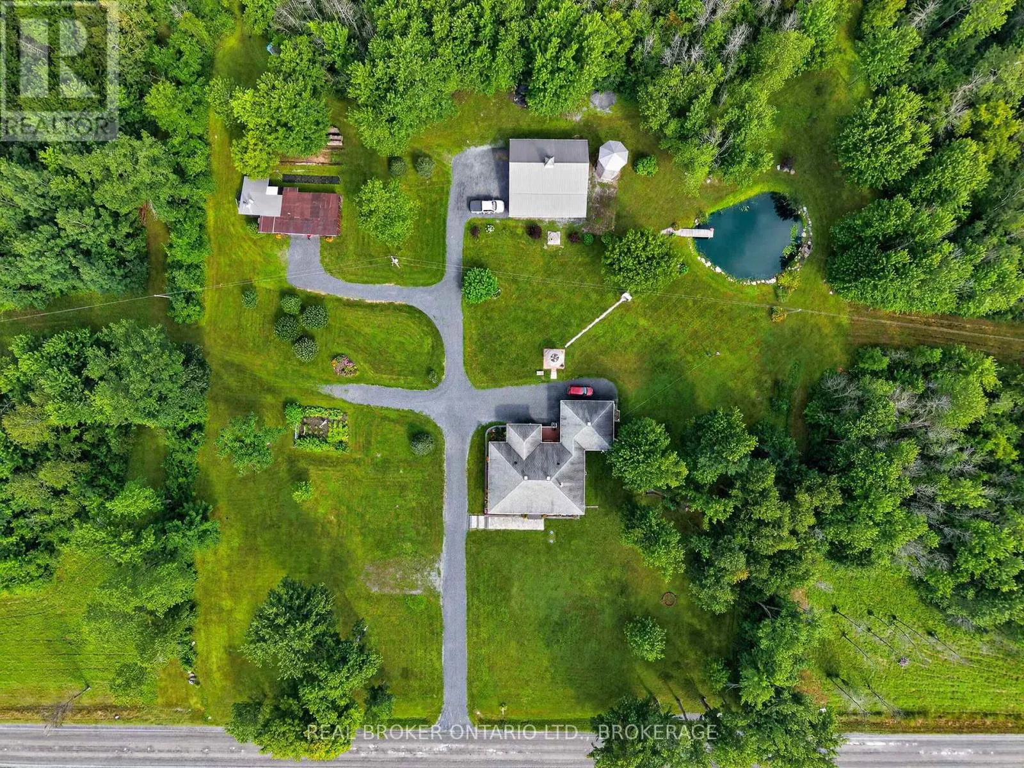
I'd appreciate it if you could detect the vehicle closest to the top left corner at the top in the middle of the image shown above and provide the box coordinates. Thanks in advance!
[470,199,505,214]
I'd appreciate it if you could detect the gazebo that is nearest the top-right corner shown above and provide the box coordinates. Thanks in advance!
[596,141,629,180]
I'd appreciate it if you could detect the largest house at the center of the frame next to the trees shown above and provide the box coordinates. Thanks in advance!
[487,400,615,515]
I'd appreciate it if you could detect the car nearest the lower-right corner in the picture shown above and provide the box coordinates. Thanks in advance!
[568,384,593,397]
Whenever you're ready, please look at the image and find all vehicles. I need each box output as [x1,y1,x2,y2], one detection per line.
[470,199,505,214]
[568,384,593,397]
